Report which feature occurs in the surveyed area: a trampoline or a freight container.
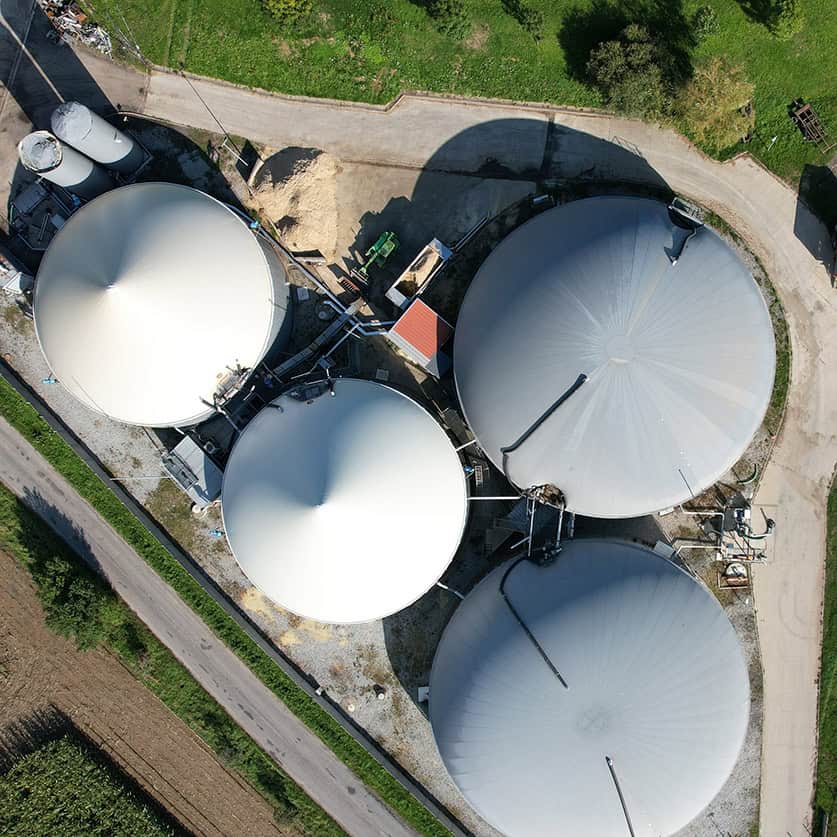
freight container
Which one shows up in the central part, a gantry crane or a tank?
tank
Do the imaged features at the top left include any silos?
Yes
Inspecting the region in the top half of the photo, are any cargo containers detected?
Yes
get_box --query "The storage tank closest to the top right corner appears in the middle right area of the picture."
[454,197,775,517]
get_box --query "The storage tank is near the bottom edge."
[430,537,750,837]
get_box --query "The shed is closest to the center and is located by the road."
[381,296,457,374]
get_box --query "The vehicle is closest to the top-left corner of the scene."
[346,226,396,283]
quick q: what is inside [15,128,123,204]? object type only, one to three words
silo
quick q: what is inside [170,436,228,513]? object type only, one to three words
building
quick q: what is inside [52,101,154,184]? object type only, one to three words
silo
